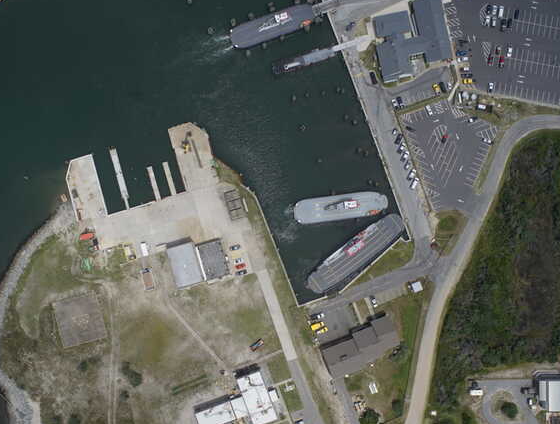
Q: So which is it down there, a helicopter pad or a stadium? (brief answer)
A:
helicopter pad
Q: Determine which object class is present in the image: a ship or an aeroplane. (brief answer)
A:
ship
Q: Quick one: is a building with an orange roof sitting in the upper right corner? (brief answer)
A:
No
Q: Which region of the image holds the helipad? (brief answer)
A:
bottom left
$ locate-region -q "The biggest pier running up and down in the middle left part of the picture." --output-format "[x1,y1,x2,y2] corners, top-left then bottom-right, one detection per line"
[109,145,131,214]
